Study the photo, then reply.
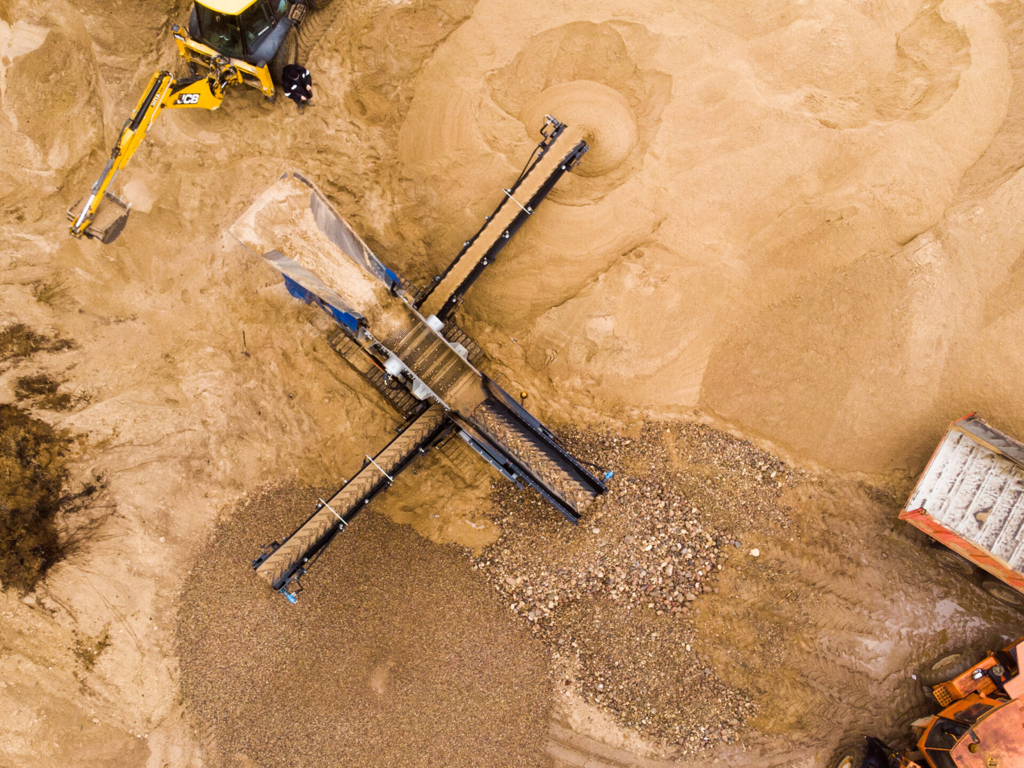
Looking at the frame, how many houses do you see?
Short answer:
0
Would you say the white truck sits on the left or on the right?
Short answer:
right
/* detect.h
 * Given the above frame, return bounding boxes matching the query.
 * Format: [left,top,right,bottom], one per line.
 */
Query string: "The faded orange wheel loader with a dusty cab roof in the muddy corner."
[820,619,1024,768]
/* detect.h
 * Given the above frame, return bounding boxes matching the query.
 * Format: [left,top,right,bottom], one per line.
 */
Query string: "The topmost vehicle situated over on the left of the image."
[66,0,344,238]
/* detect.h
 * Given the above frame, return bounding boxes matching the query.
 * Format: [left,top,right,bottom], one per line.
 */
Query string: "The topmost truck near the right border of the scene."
[893,411,1024,621]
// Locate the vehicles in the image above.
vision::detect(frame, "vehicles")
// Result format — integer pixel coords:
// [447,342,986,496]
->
[66,0,344,238]
[820,619,1024,768]
[893,411,1024,621]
